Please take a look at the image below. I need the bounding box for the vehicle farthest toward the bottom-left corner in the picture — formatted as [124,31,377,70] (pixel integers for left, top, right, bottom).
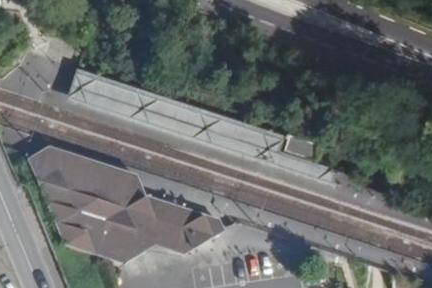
[0,274,15,288]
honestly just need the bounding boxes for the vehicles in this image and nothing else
[235,256,246,278]
[0,274,15,288]
[262,254,273,276]
[34,269,49,288]
[249,255,260,278]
